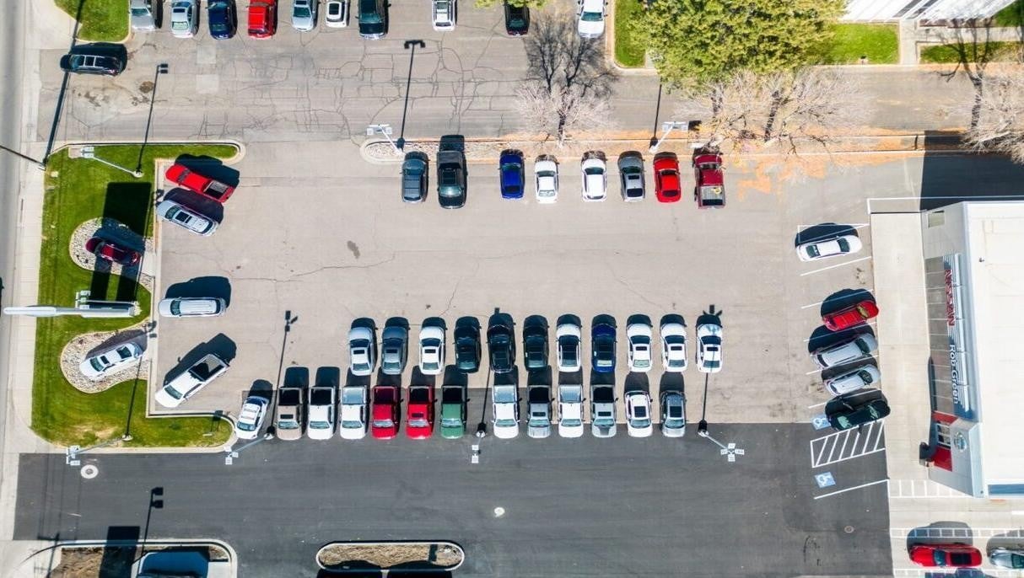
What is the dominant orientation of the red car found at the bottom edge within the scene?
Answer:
from left to right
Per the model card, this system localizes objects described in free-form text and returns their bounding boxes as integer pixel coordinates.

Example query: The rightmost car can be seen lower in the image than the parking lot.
[984,548,1024,572]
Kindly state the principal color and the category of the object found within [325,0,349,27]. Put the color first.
white car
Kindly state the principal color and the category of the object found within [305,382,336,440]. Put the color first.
white truck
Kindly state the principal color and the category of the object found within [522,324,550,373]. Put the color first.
black car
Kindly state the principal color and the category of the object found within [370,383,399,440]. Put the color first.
red truck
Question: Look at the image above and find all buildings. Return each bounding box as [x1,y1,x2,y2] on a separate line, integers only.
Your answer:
[923,199,1024,500]
[831,0,1024,25]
